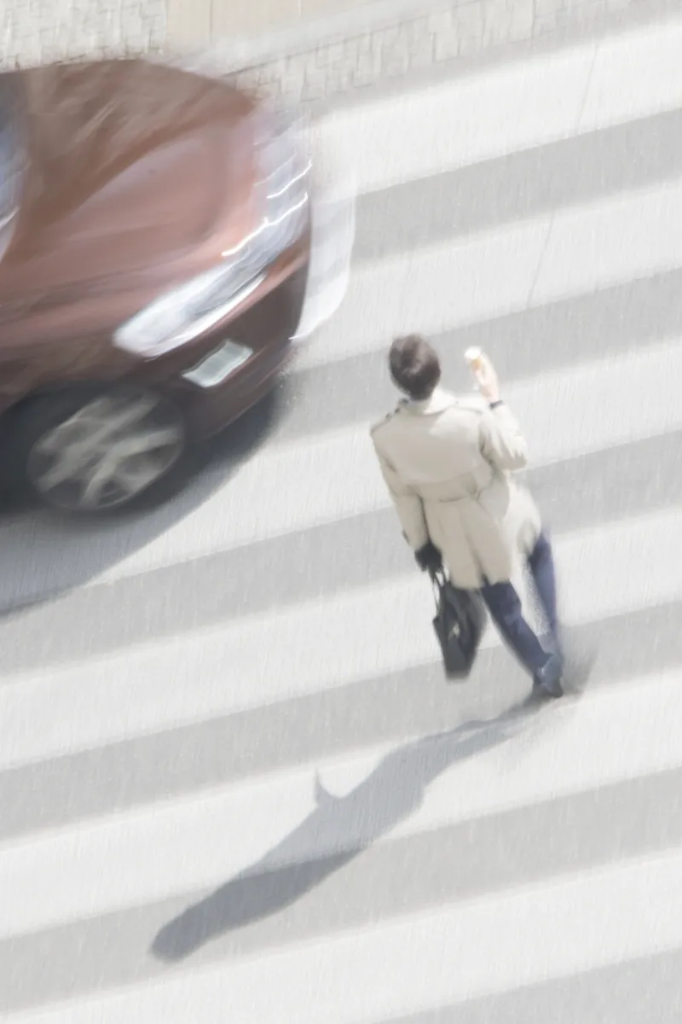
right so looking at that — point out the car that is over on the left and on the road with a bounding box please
[0,66,307,524]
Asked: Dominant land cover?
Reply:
paved ground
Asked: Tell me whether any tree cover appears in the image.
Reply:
No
